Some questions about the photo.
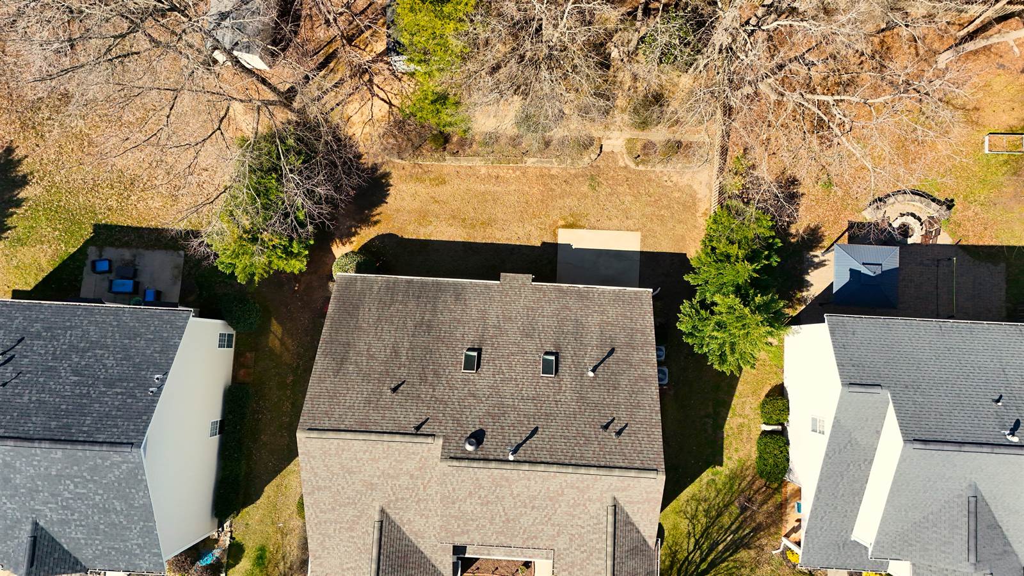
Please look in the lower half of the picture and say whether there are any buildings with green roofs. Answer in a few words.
No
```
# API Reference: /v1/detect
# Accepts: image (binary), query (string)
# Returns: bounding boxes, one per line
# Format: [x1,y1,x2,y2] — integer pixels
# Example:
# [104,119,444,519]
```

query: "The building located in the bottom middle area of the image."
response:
[299,271,665,576]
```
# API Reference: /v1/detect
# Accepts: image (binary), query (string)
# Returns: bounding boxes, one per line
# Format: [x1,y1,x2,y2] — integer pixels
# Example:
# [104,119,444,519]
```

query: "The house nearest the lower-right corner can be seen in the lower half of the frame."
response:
[783,313,1024,576]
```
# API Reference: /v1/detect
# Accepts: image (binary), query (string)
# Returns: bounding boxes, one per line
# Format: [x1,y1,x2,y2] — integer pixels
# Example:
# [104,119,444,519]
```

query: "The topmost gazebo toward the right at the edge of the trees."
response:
[816,243,900,309]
